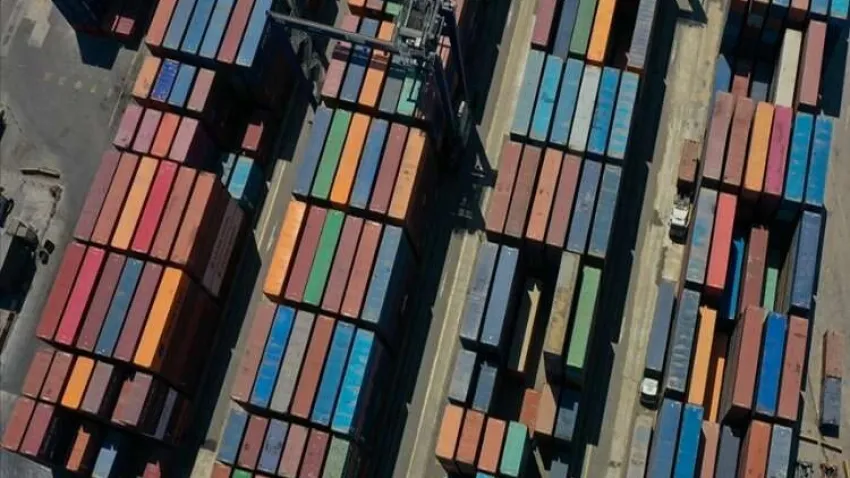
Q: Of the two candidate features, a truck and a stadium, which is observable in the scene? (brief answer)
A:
truck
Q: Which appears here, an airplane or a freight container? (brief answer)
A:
freight container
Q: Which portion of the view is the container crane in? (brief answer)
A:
top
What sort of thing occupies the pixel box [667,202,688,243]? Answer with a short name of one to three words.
truck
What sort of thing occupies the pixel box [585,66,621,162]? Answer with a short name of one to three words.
shipping container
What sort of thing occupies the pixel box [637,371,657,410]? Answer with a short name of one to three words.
vehicle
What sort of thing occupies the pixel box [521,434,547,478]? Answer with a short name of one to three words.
shipping container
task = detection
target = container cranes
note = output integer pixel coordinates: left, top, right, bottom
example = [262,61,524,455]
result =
[264,0,477,143]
